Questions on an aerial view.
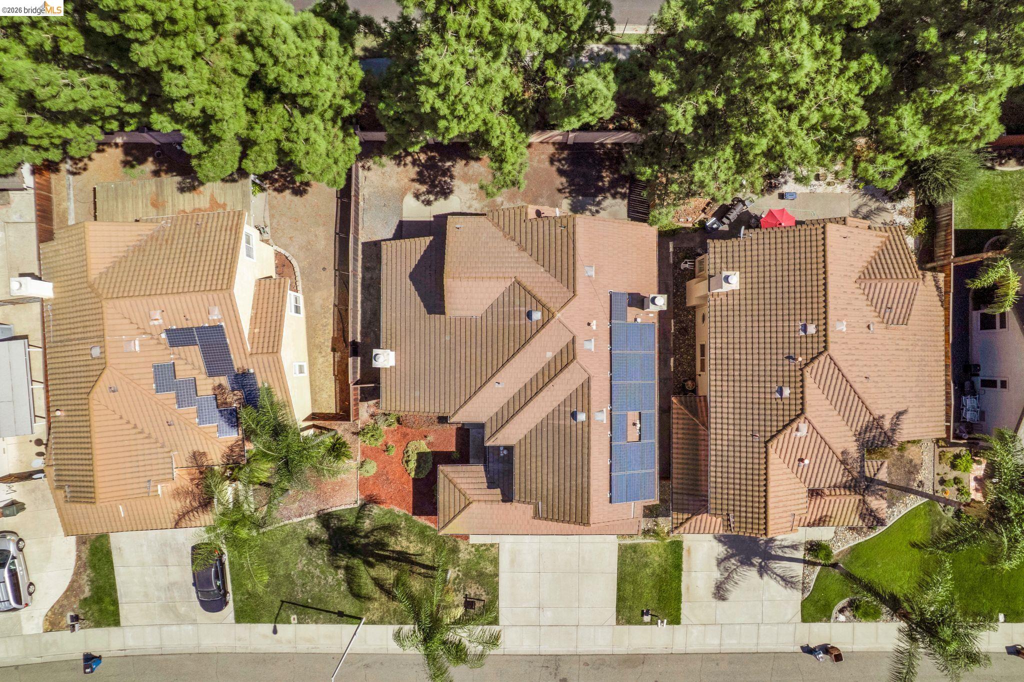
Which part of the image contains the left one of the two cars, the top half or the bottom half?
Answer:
bottom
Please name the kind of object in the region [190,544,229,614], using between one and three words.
car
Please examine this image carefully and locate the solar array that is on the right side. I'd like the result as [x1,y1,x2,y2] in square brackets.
[607,292,655,503]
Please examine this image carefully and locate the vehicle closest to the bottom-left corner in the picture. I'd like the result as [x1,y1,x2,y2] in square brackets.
[0,533,34,612]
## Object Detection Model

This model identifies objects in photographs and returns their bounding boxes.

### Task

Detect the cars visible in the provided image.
[0,533,34,612]
[190,544,229,614]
